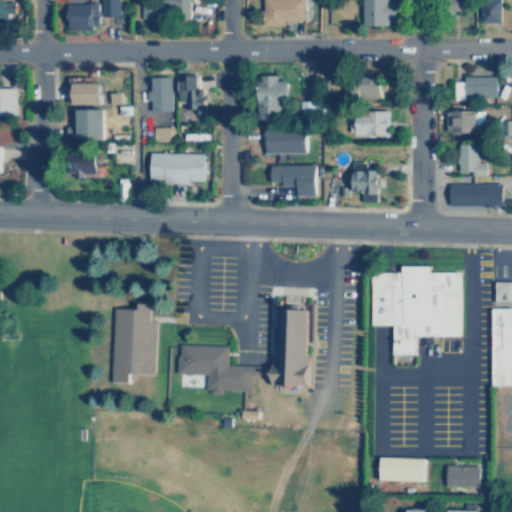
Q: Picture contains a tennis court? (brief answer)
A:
No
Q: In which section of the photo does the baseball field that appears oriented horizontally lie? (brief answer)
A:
bottom left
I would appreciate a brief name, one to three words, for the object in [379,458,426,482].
building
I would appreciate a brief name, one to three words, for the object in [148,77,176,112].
house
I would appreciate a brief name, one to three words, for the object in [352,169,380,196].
house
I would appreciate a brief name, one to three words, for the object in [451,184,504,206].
building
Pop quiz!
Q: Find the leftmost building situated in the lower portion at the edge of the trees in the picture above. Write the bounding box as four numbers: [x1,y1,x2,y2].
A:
[114,304,158,384]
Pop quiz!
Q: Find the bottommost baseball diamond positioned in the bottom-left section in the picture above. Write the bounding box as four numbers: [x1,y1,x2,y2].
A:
[81,480,184,512]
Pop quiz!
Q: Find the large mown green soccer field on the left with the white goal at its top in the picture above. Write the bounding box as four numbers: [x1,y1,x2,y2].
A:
[0,335,84,512]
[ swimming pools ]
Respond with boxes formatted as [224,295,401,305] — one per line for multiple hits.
[336,152,352,168]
